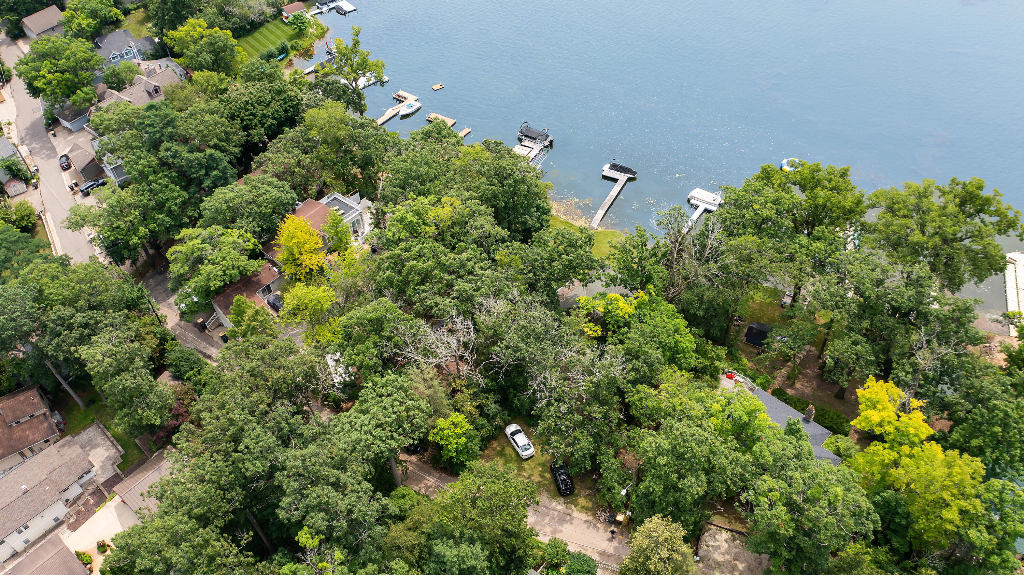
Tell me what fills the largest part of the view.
trees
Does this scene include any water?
Yes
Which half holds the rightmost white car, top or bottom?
bottom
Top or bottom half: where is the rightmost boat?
top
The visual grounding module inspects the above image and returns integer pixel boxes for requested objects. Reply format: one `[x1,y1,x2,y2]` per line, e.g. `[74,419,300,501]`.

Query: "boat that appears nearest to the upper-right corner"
[688,186,723,206]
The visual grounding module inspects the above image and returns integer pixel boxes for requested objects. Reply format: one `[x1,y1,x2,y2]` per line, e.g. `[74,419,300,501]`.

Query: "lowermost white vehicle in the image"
[505,423,536,463]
